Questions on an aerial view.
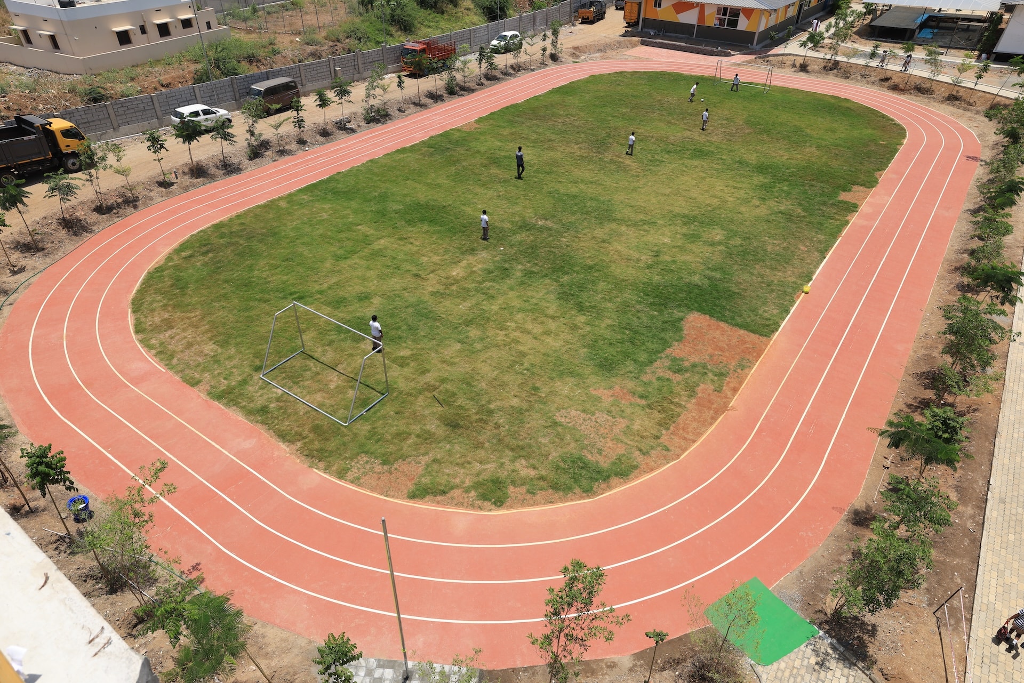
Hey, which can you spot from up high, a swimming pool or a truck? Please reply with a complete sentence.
This aerial view contains a truck.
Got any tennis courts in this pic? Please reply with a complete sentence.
No, the photo shows no tennis court.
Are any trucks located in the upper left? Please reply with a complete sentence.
Yes, you'll find a truck in the upper left.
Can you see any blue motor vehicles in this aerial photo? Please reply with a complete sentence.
No, no blue motor vehicle is visible in the scene.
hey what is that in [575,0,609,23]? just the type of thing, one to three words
truck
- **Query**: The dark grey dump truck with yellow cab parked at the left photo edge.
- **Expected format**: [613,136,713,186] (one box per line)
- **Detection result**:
[0,112,83,186]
